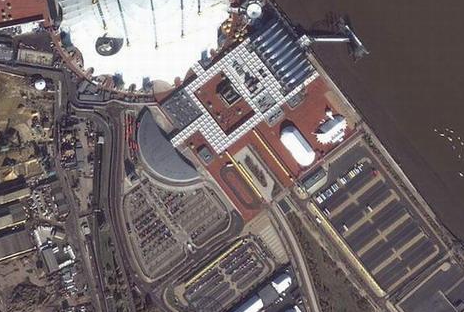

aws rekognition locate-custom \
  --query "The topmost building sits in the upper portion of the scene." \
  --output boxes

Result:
[243,2,263,23]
